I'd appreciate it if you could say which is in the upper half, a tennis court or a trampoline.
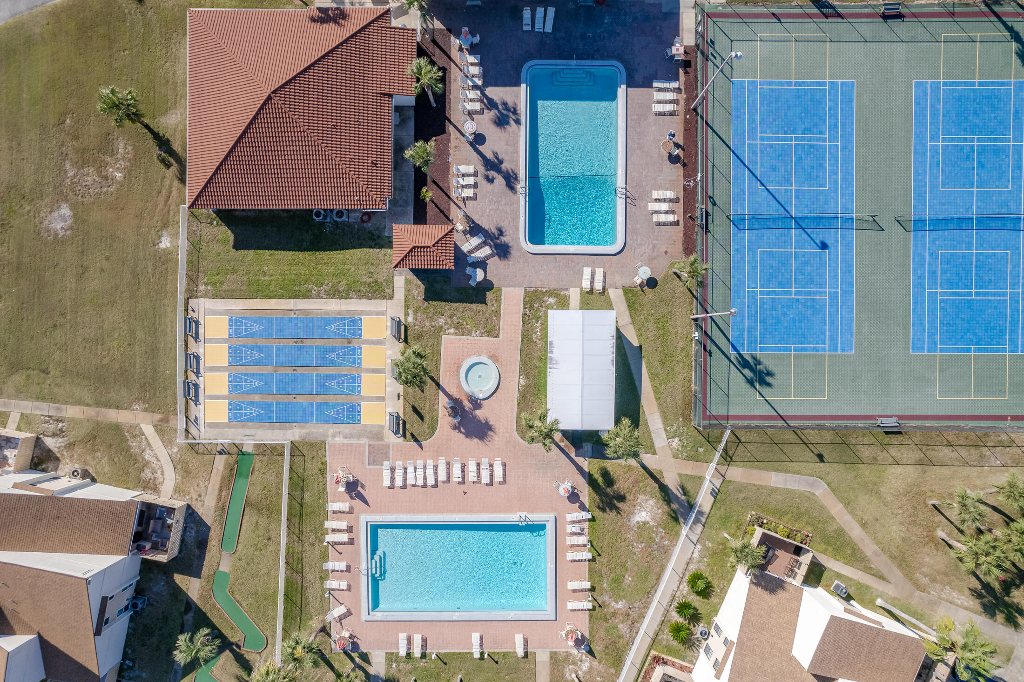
tennis court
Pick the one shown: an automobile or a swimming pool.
swimming pool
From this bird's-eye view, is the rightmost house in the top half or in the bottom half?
bottom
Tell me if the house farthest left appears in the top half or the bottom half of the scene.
bottom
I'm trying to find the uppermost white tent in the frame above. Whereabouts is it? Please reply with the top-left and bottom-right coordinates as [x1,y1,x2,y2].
[547,310,616,430]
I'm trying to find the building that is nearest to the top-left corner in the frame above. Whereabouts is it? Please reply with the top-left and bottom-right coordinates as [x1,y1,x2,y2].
[186,5,417,210]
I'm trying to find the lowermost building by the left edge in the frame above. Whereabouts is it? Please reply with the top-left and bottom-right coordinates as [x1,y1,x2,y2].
[0,467,145,682]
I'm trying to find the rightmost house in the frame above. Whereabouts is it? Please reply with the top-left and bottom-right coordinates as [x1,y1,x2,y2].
[689,570,930,682]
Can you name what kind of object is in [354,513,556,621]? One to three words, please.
swimming pool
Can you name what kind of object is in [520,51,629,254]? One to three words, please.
swimming pool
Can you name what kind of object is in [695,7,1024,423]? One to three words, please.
sports court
